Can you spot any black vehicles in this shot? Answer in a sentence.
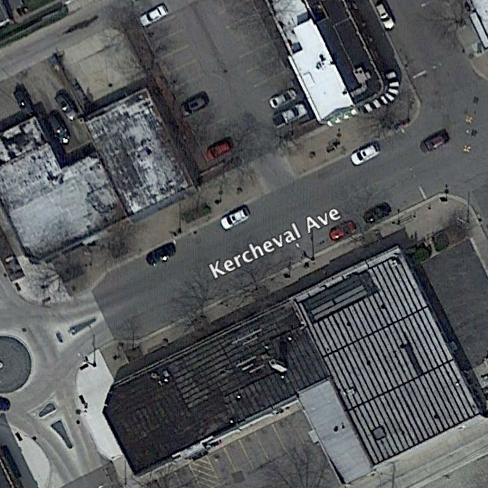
Yes, the picture does show a black vehicle.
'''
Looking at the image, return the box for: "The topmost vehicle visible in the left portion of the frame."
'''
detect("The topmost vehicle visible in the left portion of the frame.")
[141,5,168,25]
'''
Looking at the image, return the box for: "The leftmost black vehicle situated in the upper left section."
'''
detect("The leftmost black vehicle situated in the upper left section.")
[12,84,30,111]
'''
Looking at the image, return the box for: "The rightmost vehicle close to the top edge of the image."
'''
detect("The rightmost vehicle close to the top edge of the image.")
[377,2,396,30]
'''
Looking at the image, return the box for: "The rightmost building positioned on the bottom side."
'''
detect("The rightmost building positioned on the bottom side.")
[103,248,486,485]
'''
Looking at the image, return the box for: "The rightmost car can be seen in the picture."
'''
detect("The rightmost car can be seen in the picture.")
[422,131,449,150]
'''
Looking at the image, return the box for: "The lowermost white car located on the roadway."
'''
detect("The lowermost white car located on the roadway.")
[223,208,250,227]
